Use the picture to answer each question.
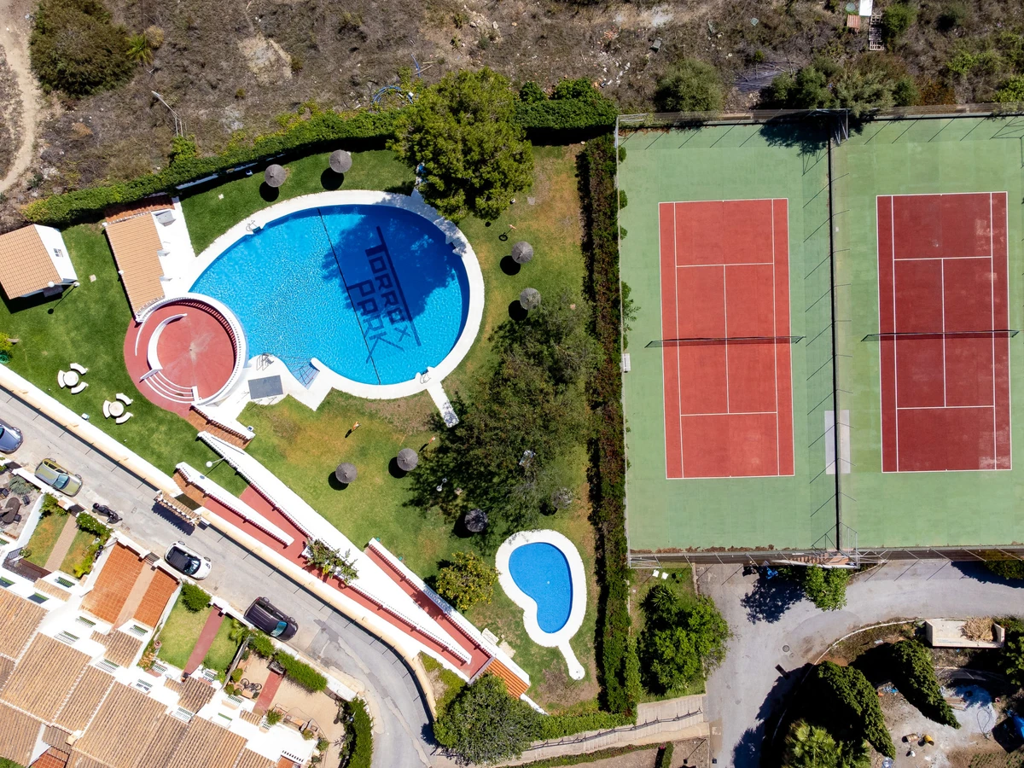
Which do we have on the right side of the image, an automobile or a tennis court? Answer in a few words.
tennis court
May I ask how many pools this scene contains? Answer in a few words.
two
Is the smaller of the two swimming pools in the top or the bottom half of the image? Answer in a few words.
bottom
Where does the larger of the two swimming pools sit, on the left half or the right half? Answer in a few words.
left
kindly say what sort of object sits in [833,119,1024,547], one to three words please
tennis court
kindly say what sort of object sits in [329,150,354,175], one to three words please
umbrella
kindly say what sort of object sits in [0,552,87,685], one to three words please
house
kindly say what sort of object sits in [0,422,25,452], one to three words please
car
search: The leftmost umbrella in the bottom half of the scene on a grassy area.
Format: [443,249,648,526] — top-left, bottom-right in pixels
[335,462,358,486]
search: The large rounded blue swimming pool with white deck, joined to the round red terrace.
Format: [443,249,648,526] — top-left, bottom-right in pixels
[167,189,483,438]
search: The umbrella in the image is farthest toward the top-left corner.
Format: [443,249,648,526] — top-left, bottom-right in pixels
[263,164,287,189]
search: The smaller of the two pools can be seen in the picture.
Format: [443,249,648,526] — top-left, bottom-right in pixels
[497,530,587,679]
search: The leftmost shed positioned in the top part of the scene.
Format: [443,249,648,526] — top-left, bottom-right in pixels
[0,225,82,299]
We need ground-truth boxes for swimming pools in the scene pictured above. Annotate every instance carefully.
[497,530,587,679]
[167,189,483,438]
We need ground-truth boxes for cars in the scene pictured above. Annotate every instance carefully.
[34,459,82,495]
[245,600,297,640]
[0,422,25,452]
[166,543,212,577]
